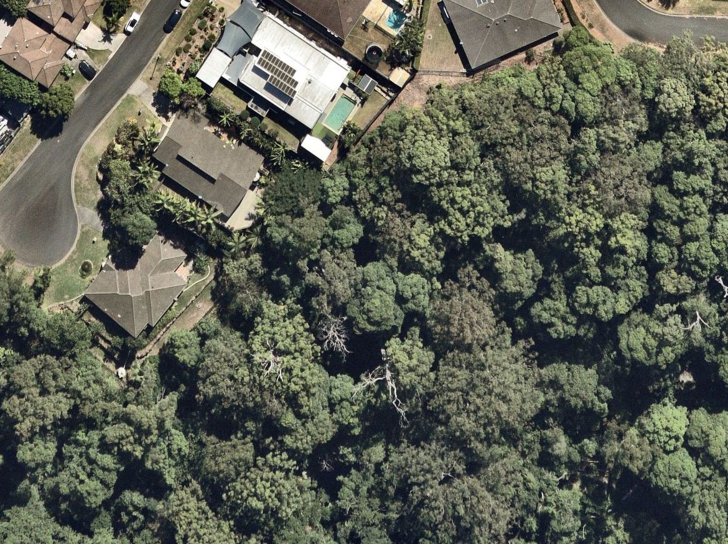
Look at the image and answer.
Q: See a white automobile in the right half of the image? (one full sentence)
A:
No, there's no white automobile to be seen in the right half of the image.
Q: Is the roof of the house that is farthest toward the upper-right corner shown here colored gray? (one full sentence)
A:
Yes, the roof of the house that is farthest toward the upper-right corner appears gray.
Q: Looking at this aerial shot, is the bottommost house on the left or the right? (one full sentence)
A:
You can find the bottommost house on the left side of the picture.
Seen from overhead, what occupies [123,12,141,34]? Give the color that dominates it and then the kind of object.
white car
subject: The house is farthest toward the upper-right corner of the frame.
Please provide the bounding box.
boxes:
[442,0,561,70]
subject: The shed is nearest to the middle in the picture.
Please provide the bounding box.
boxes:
[301,134,330,161]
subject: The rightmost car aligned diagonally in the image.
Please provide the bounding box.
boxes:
[162,8,183,33]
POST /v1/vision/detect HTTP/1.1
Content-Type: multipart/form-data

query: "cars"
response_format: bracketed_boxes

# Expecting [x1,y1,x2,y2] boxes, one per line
[178,0,191,7]
[123,12,141,34]
[76,58,98,83]
[162,8,183,33]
